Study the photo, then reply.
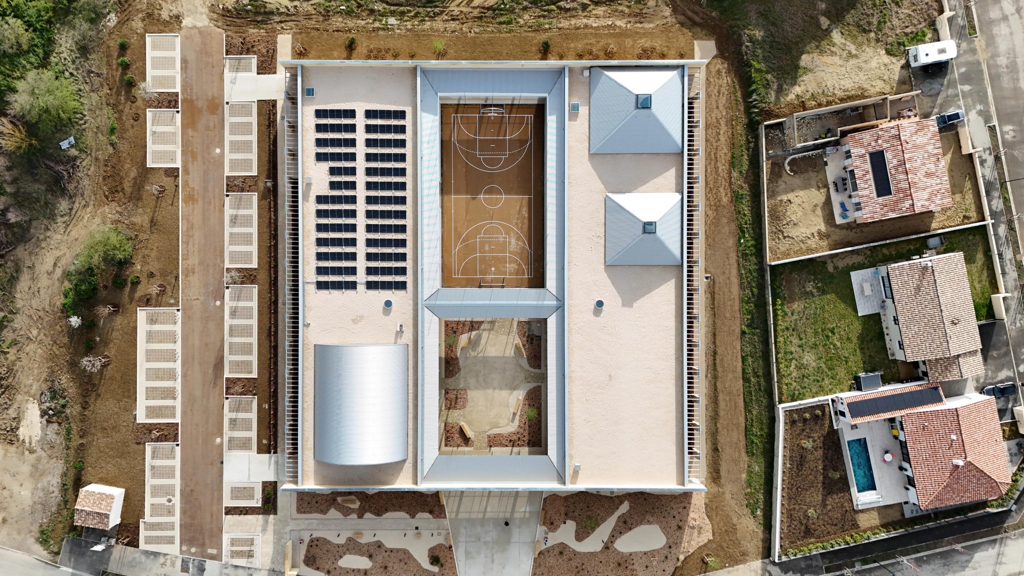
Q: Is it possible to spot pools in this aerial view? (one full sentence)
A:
Yes, the picture does show a pool.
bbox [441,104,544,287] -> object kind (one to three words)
sports court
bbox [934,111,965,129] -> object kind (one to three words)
car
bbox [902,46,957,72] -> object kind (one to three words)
camper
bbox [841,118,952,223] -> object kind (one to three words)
house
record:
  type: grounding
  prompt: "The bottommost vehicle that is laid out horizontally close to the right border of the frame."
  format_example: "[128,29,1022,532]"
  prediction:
[982,382,1015,399]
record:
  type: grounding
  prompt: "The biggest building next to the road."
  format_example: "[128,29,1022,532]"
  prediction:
[280,60,707,491]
